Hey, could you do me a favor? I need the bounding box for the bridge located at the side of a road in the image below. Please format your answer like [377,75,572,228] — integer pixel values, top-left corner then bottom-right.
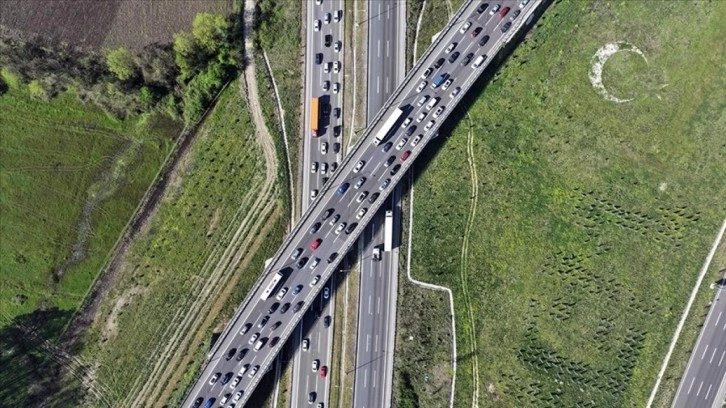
[179,0,547,408]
